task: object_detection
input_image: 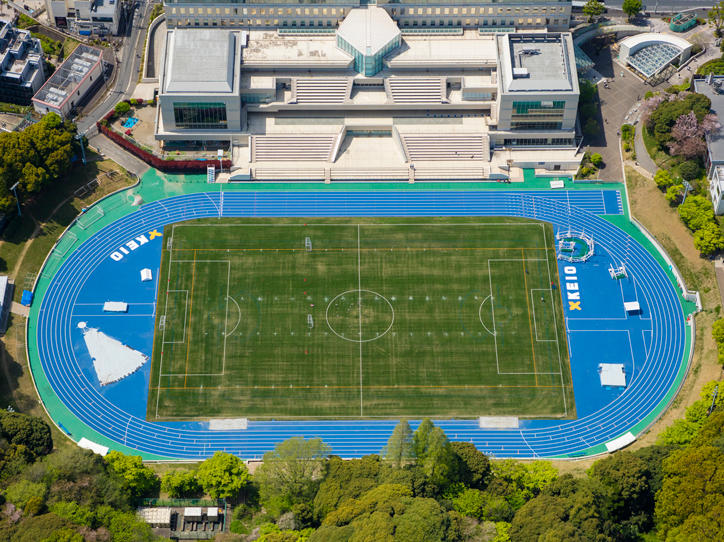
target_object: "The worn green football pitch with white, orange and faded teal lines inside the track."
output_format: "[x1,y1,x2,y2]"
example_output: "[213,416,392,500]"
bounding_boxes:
[146,217,577,421]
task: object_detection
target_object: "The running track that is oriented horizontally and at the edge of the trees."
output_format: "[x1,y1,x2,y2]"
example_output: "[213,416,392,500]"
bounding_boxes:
[28,167,699,459]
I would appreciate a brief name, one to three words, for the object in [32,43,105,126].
building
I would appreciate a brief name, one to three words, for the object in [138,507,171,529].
shed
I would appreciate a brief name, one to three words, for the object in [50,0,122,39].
building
